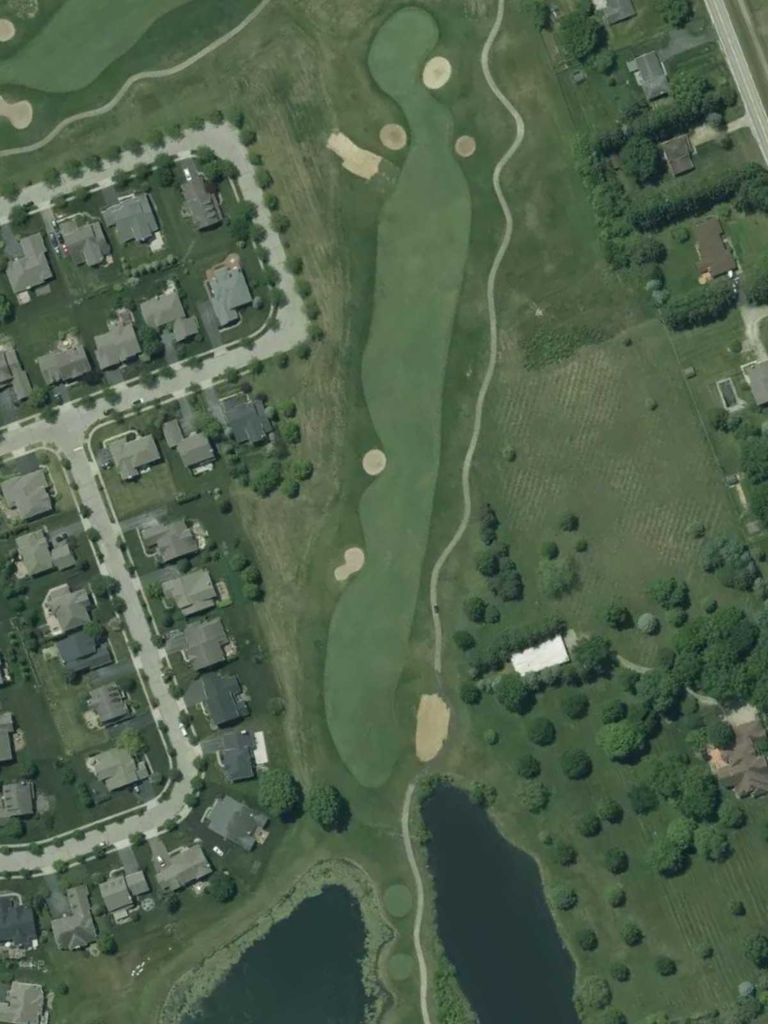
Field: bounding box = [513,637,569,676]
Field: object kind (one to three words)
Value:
barn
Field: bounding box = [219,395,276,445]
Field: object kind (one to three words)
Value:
house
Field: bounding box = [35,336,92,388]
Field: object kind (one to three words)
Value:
house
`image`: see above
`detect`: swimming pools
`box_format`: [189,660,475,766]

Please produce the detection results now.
[717,377,747,413]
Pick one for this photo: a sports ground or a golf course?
golf course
